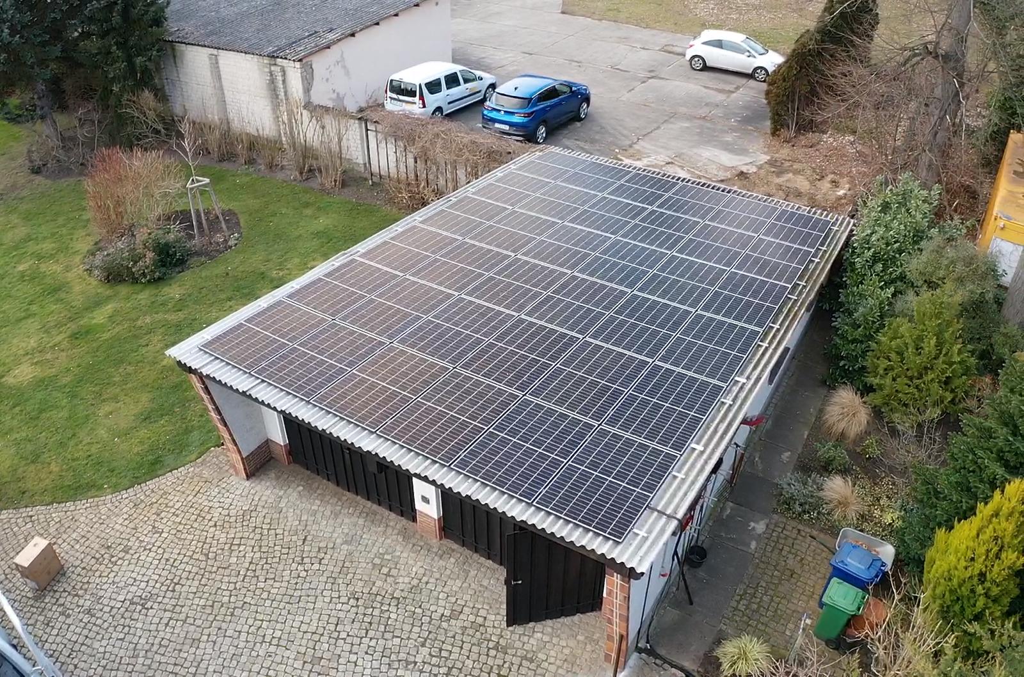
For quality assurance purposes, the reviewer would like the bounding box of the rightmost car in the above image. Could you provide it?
[687,26,787,81]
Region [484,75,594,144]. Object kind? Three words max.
car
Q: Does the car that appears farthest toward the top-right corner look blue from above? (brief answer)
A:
No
